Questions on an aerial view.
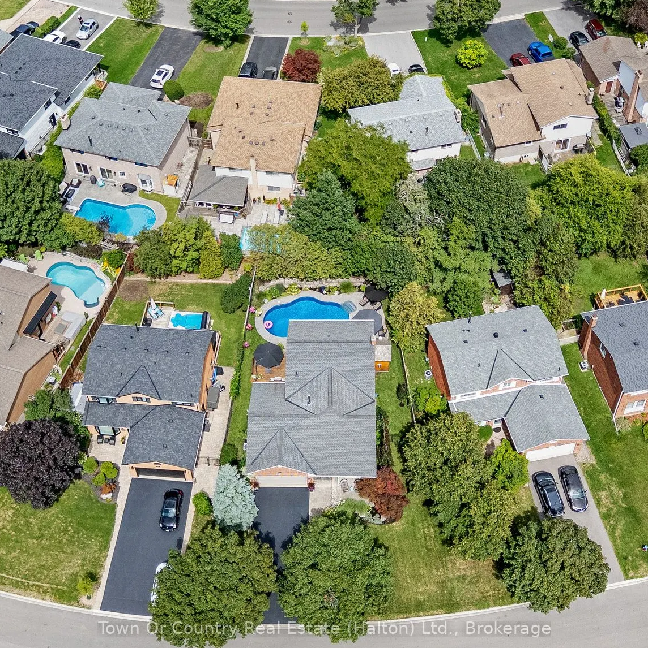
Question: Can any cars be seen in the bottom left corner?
Yes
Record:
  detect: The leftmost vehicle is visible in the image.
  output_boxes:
[8,18,40,35]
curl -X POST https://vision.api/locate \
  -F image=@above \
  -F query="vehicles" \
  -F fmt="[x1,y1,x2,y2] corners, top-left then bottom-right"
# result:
[386,61,405,81]
[408,64,425,77]
[8,18,40,35]
[64,38,87,50]
[509,52,530,64]
[261,62,279,80]
[558,468,587,511]
[239,59,257,77]
[526,39,561,58]
[582,12,607,39]
[76,17,101,39]
[530,474,566,515]
[148,65,178,87]
[566,31,587,55]
[159,490,186,531]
